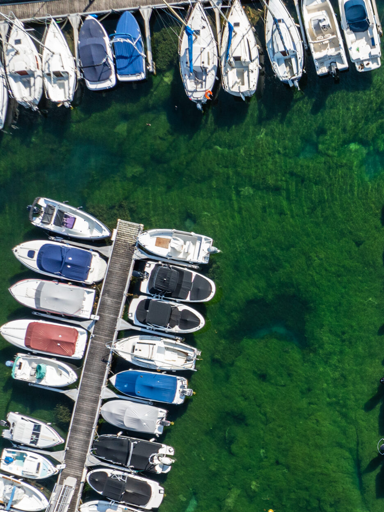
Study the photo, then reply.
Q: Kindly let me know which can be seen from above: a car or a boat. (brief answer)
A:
boat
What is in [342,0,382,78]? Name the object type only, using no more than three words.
boat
